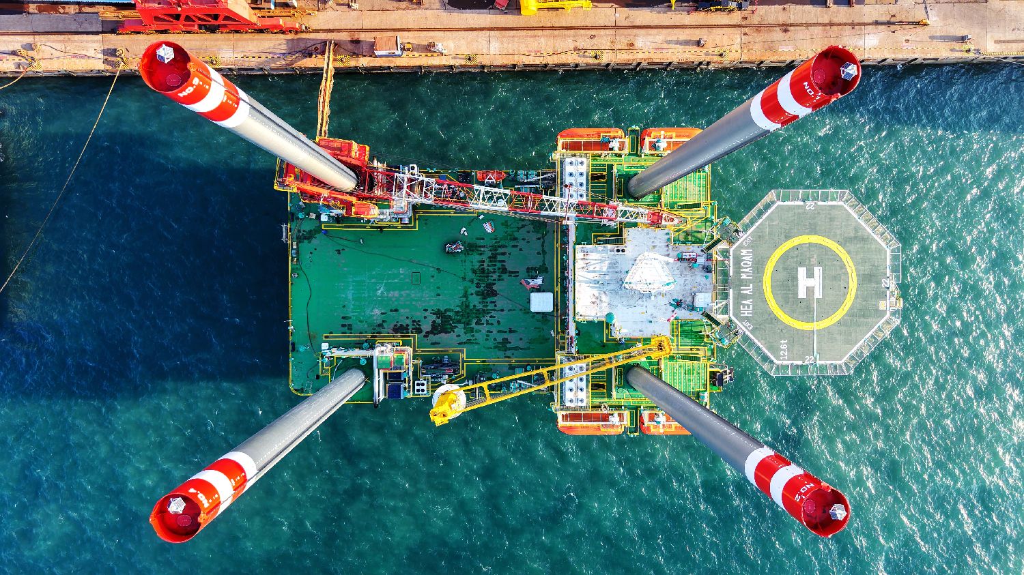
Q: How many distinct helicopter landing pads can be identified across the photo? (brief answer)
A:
one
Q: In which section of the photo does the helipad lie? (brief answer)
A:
right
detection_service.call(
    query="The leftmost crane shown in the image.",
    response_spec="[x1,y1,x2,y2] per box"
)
[121,0,309,36]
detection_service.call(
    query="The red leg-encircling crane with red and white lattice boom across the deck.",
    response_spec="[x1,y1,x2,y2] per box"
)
[274,138,685,224]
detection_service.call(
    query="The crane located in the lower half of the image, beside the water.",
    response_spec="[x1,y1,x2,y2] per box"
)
[430,337,672,426]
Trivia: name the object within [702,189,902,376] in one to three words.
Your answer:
helipad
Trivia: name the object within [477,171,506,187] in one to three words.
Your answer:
boat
